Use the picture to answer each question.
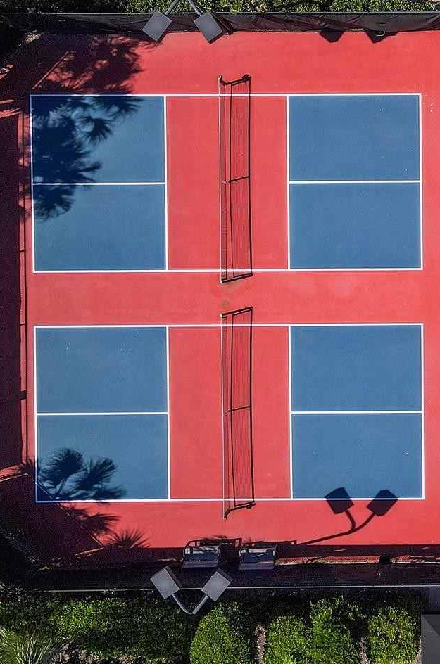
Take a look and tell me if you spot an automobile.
No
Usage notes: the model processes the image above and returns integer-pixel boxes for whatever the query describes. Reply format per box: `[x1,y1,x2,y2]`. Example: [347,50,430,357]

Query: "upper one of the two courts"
[31,92,422,273]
